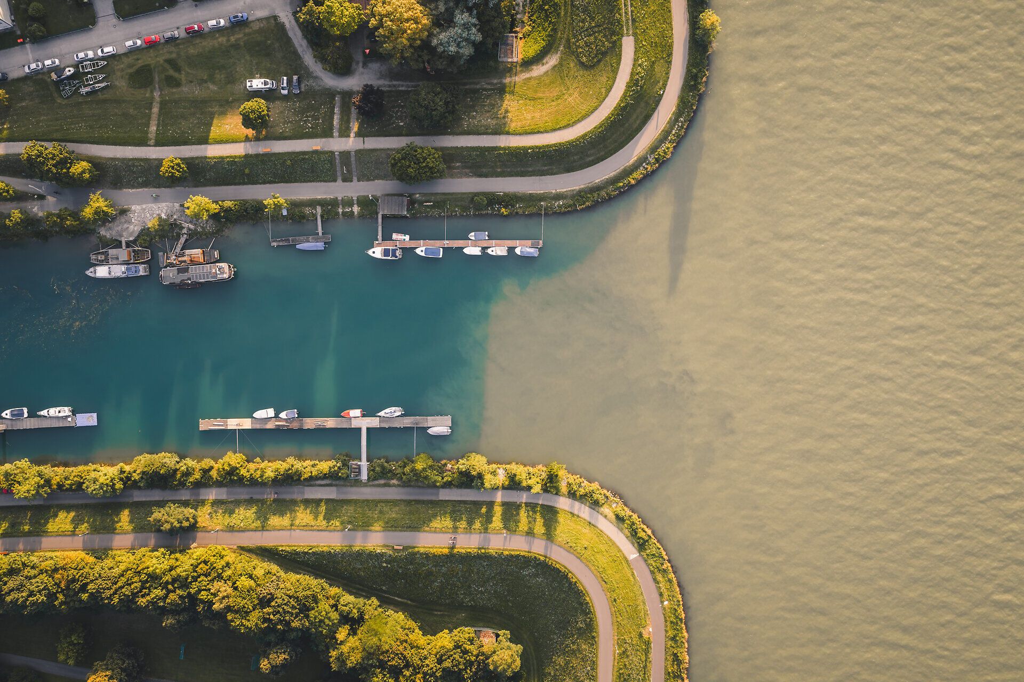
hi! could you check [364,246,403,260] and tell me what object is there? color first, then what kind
white boat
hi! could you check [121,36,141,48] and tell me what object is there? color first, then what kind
white vehicle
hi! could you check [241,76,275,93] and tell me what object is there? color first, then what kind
white vehicle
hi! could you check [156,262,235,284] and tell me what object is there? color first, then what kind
gray boat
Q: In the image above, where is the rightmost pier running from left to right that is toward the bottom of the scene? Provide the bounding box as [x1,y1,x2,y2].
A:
[199,415,452,431]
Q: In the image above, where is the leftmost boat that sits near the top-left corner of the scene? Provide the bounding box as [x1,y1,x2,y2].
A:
[46,65,73,80]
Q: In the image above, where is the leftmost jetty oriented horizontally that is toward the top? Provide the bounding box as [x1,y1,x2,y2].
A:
[271,234,331,246]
